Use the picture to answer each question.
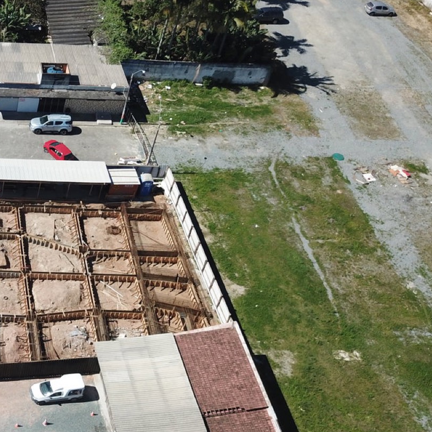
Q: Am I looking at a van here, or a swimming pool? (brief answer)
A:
van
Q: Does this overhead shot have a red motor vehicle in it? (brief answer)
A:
Yes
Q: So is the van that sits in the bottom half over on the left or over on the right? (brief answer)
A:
left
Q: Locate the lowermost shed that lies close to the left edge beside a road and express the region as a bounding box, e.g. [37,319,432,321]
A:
[0,160,112,203]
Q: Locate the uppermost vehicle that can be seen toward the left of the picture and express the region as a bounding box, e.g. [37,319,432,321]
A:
[30,112,74,133]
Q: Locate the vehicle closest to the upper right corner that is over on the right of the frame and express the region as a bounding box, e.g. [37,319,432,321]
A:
[365,0,398,15]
